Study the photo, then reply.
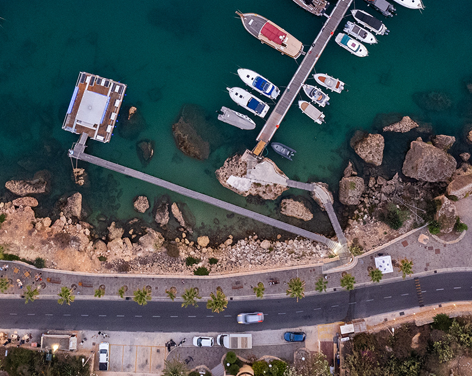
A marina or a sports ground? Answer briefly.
marina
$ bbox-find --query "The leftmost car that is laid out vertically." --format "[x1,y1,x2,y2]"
[97,342,110,370]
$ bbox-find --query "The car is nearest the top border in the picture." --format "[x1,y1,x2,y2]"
[236,312,263,324]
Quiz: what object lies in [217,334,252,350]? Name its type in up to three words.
vehicle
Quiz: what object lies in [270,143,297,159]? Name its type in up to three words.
boat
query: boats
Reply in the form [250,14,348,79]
[338,17,380,44]
[333,32,370,56]
[313,75,347,93]
[391,0,430,14]
[233,66,282,102]
[302,85,331,107]
[352,10,391,38]
[362,0,396,18]
[227,87,269,119]
[235,11,308,61]
[299,102,325,124]
[218,108,255,128]
[270,143,297,159]
[296,0,329,16]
